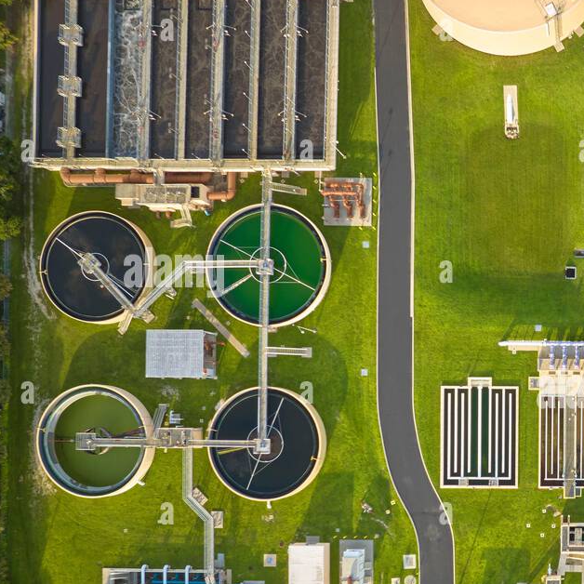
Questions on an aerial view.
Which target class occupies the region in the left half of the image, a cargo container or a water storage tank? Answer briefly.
water storage tank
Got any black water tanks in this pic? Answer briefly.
Yes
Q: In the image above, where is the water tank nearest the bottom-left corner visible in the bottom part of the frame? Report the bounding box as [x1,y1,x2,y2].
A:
[37,383,159,498]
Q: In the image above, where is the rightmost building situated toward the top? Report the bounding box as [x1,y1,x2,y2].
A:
[320,172,372,227]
